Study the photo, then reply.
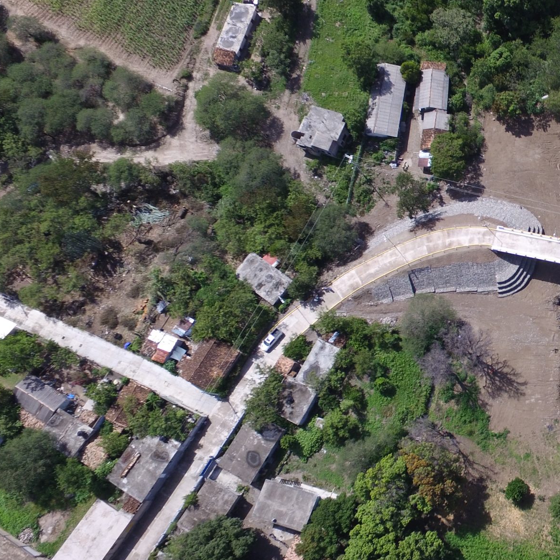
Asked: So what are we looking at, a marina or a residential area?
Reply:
residential area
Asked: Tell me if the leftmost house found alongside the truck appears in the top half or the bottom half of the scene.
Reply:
bottom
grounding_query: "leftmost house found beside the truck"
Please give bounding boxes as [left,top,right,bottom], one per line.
[179,340,245,390]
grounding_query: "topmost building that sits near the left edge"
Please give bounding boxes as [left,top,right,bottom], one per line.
[0,315,29,344]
